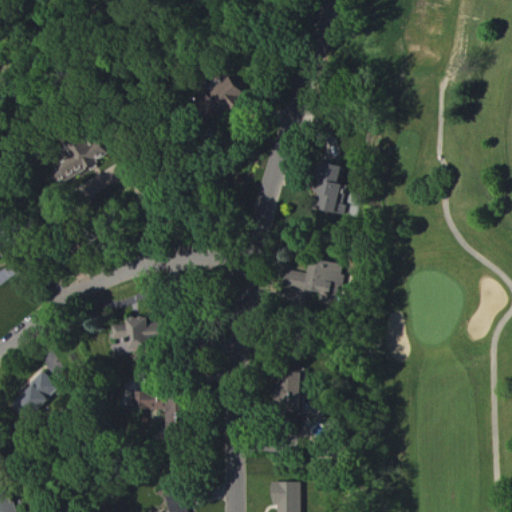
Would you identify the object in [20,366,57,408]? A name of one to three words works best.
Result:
house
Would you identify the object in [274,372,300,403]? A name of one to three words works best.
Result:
house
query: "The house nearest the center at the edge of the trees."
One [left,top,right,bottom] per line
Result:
[282,259,346,298]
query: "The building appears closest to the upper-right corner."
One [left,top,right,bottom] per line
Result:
[324,164,346,213]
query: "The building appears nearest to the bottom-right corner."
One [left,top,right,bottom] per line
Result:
[270,482,300,512]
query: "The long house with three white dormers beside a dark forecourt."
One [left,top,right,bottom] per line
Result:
[52,140,106,182]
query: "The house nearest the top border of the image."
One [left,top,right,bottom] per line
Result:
[206,76,242,110]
